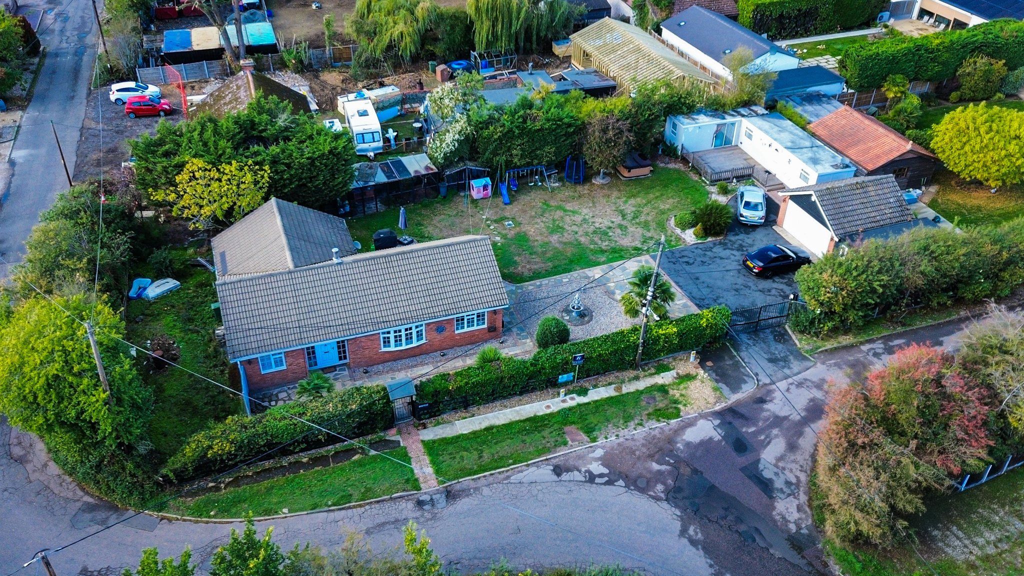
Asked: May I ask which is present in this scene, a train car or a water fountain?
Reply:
water fountain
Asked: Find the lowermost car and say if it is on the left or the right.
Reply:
right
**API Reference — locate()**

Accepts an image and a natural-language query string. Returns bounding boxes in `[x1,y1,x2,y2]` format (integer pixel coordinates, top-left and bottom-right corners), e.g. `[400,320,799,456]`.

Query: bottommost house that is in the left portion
[197,194,510,391]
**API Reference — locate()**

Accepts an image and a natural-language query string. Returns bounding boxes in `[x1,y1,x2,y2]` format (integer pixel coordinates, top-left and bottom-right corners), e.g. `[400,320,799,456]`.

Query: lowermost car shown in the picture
[741,244,809,282]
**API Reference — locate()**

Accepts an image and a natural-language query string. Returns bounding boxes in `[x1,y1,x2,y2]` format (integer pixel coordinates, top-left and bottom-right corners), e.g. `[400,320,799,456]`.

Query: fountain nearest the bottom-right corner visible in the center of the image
[562,286,596,325]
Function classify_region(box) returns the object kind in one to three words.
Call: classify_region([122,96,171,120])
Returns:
car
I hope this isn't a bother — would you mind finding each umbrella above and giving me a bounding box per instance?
[398,205,412,245]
